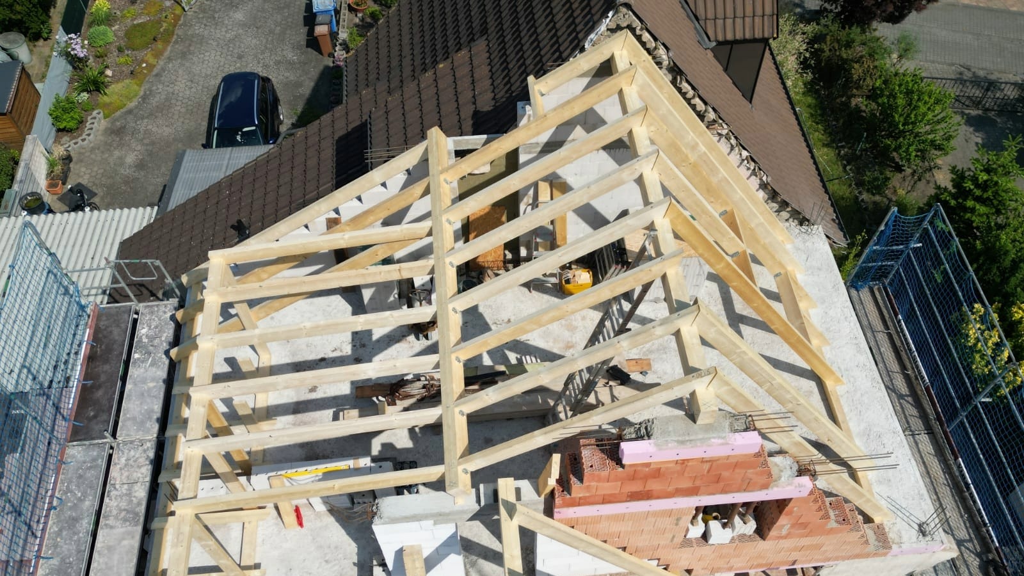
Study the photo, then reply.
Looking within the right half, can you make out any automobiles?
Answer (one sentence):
No, there's no automobile to be seen within the right half.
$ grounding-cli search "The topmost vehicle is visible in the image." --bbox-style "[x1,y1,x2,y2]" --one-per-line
[200,71,289,150]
